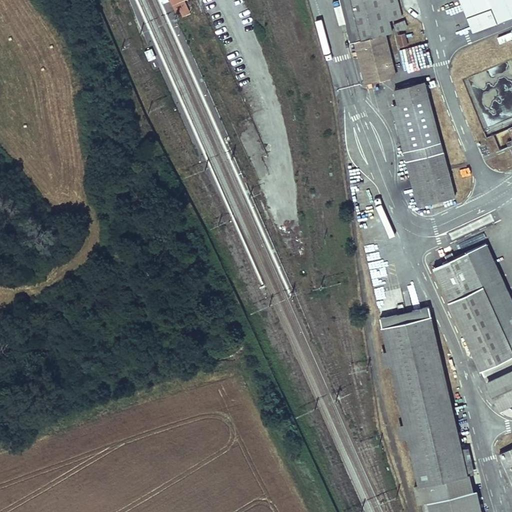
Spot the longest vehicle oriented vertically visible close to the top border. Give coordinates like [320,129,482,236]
[316,16,333,60]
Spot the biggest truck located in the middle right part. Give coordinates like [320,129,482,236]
[374,198,396,240]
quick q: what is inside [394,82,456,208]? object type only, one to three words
building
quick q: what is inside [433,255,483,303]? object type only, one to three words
building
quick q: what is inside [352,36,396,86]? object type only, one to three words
shed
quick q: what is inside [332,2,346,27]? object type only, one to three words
vehicle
